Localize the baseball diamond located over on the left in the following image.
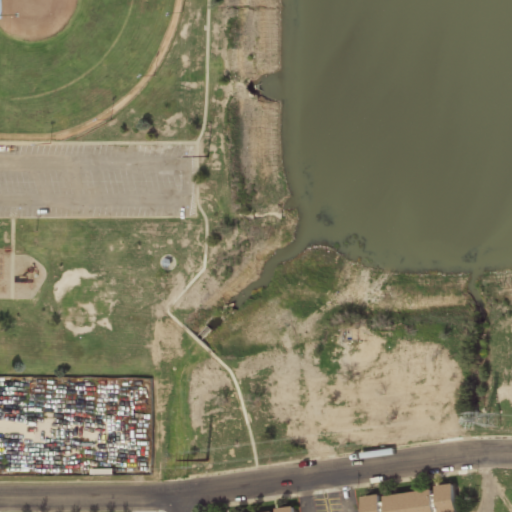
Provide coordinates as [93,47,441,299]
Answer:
[0,0,184,140]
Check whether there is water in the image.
Yes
